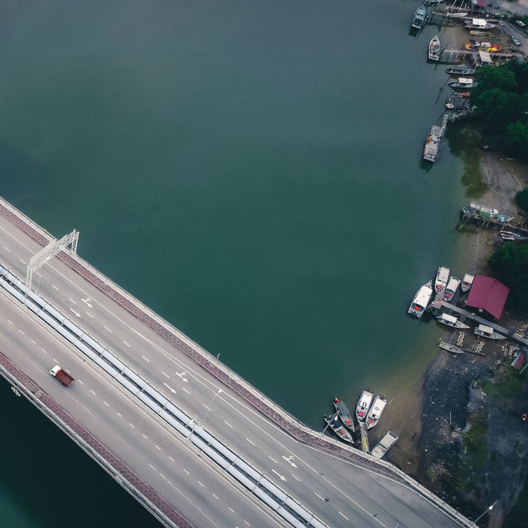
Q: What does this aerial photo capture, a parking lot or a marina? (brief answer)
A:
marina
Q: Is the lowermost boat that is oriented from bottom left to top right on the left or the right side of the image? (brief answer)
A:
right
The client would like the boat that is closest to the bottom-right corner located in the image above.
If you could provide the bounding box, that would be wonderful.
[371,428,400,458]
